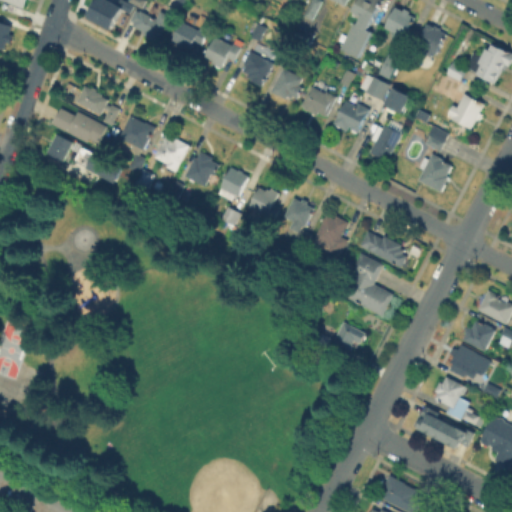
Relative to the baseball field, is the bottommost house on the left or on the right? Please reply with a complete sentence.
The bottommost house can be seen on the right of the baseball field.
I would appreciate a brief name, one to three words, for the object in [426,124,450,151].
building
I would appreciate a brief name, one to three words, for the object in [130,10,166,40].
house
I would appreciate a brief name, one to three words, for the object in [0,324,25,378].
basketball court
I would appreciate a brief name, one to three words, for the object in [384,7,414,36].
house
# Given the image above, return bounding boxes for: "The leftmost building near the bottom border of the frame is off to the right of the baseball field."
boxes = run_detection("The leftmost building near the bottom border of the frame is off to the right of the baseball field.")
[382,476,420,512]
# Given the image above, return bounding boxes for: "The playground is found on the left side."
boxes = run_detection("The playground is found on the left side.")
[73,268,120,317]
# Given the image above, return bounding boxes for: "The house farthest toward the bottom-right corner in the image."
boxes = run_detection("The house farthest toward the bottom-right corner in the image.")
[482,418,512,465]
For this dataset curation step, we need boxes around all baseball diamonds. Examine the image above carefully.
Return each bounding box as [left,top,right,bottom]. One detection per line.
[190,456,279,512]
